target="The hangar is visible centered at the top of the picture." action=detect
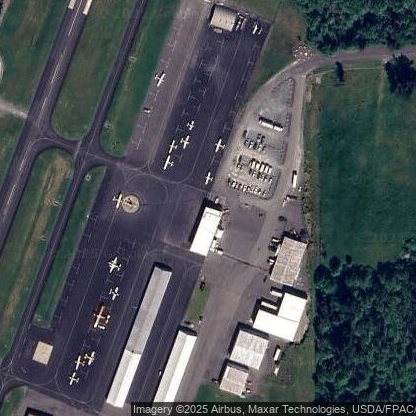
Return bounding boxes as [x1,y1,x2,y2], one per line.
[211,6,239,31]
